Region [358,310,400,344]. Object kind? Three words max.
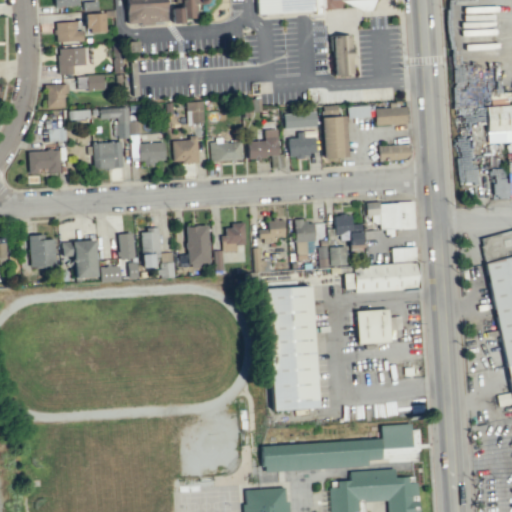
building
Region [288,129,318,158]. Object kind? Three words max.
house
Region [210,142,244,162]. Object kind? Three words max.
house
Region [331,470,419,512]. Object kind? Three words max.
building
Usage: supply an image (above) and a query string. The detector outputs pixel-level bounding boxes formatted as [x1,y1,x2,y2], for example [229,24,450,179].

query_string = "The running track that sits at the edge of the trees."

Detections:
[0,284,248,422]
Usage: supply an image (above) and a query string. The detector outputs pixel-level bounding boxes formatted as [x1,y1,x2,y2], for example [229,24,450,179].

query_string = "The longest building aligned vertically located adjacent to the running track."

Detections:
[269,286,320,412]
